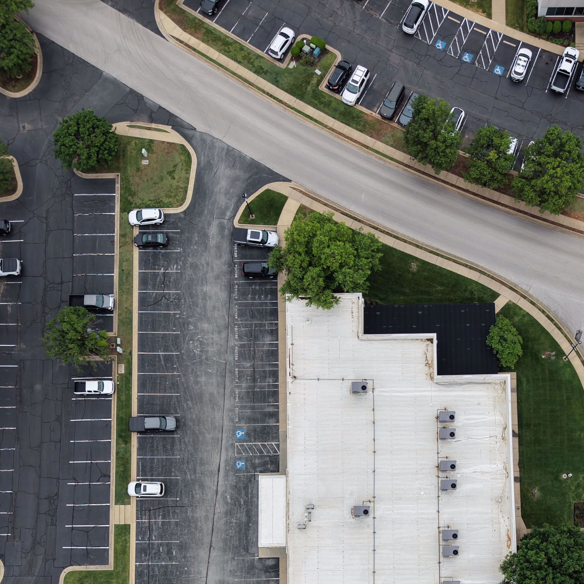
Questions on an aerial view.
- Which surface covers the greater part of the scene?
paved ground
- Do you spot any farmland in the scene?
No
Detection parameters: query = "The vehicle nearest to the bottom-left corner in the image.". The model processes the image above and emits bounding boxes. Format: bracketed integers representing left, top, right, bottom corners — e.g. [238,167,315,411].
[127,480,166,498]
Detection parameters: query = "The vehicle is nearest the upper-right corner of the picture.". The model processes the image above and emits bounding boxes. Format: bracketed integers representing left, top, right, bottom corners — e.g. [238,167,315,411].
[550,45,581,96]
